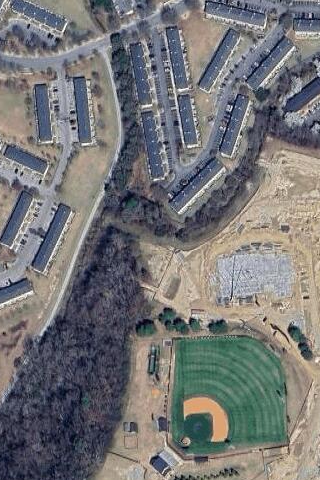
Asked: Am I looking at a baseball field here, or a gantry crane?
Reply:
baseball field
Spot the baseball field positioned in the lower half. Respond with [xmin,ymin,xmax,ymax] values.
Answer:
[169,334,291,460]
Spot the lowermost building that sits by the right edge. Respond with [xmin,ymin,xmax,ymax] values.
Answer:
[285,77,320,115]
